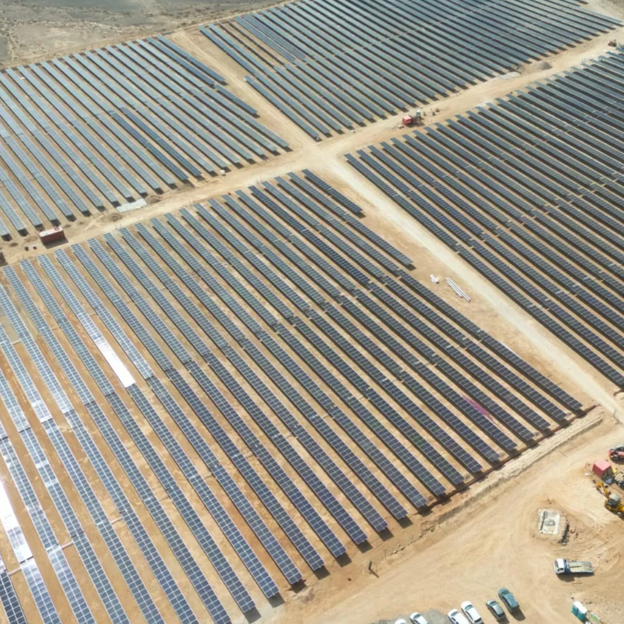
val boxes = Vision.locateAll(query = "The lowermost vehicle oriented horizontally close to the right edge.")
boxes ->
[554,556,594,576]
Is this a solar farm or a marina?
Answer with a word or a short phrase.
solar farm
